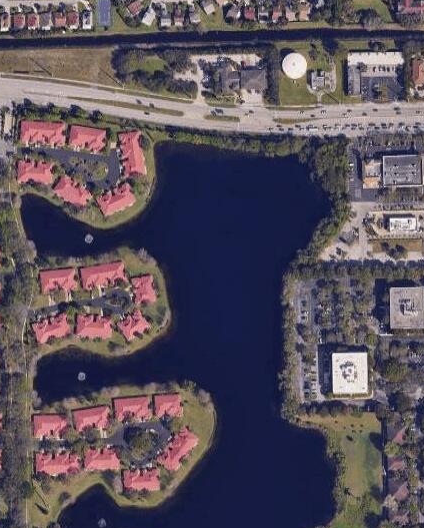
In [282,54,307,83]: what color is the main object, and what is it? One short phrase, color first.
white water tank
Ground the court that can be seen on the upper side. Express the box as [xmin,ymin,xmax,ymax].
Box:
[94,0,112,29]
